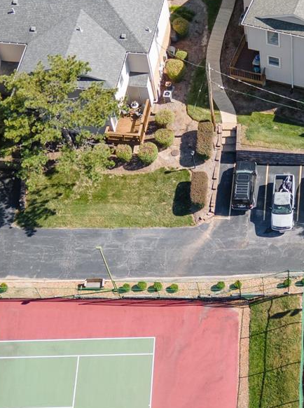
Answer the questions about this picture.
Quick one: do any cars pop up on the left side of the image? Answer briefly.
No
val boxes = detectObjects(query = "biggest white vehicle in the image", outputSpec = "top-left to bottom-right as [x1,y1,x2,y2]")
[267,172,297,229]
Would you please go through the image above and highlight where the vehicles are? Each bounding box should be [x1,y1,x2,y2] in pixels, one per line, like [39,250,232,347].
[279,173,288,191]
[230,161,258,212]
[267,172,297,229]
